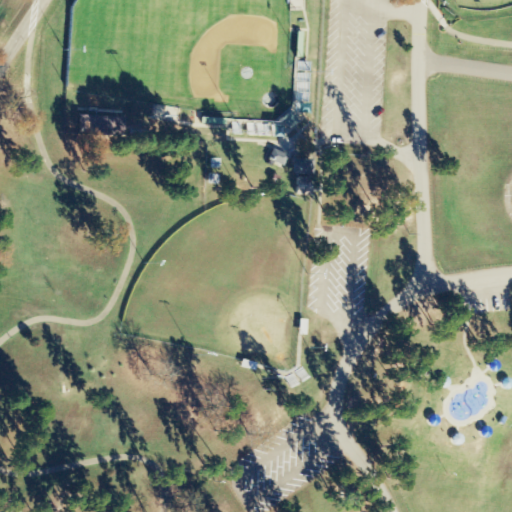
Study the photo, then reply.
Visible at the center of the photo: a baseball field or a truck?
baseball field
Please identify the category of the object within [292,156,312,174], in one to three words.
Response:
building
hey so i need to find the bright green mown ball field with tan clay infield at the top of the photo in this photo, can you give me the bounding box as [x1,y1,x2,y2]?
[67,0,292,120]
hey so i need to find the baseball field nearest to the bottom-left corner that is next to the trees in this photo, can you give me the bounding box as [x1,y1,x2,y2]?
[122,195,310,370]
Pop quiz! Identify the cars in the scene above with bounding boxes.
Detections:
[376,28,387,39]
[494,298,500,310]
[331,138,343,144]
[375,106,386,117]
